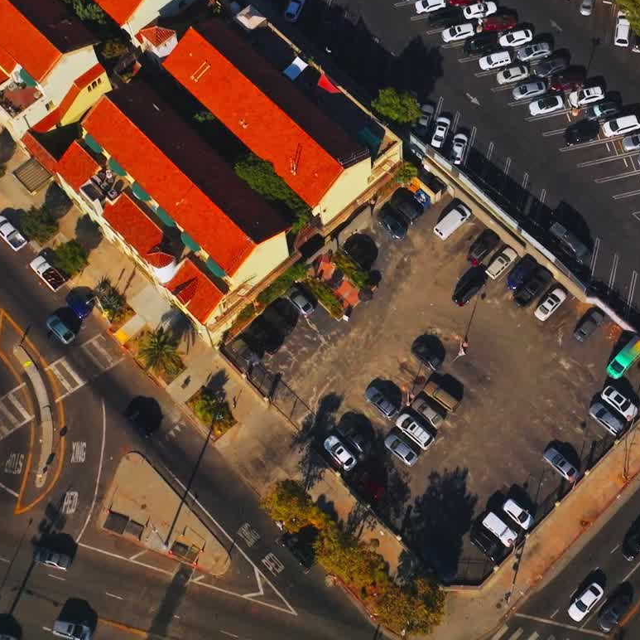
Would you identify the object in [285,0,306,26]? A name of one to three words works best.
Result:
car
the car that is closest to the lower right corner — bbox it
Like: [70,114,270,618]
[597,588,634,629]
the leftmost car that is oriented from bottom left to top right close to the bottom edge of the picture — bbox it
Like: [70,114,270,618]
[568,582,605,622]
